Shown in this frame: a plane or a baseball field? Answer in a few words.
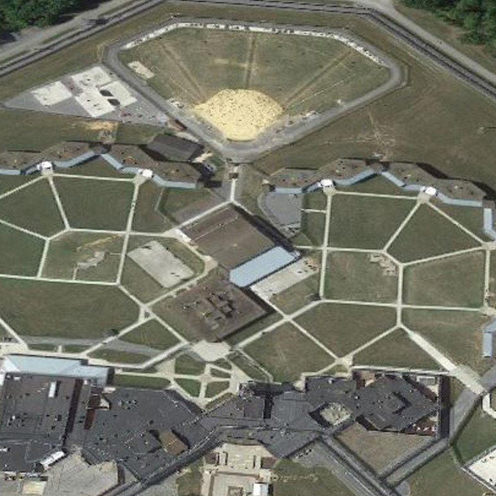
baseball field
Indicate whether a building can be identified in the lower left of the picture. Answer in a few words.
Yes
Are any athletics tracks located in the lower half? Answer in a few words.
No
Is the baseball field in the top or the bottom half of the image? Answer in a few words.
top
